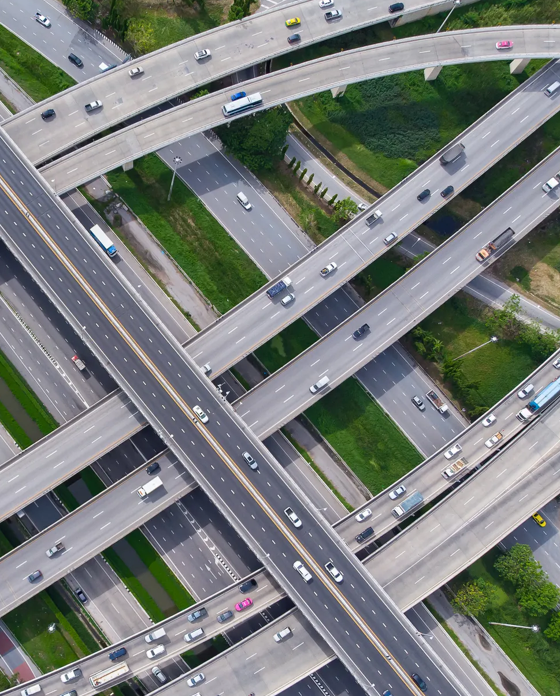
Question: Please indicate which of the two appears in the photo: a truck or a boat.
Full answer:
The one in the frame is a truck.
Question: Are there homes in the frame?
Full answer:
No, I can't see a single home in this photo.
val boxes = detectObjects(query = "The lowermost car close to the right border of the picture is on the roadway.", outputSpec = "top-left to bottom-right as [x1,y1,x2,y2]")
[532,513,546,528]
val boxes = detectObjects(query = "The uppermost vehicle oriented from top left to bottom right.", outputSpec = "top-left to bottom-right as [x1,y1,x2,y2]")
[33,12,51,27]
